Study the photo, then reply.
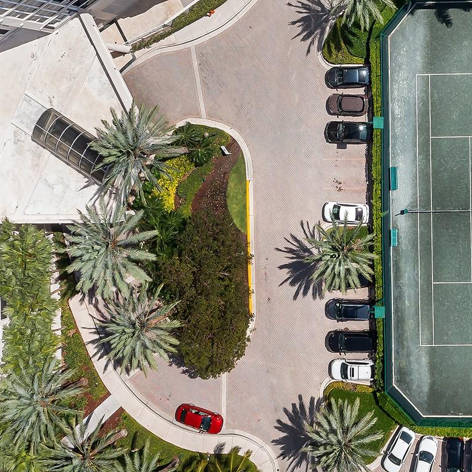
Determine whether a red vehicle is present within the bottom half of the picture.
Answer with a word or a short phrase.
Yes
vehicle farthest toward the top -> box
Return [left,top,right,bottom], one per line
[324,64,370,89]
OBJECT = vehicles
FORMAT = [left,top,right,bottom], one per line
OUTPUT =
[169,404,223,437]
[326,359,373,387]
[383,425,414,472]
[322,202,369,226]
[326,271,370,295]
[324,119,371,146]
[445,439,464,472]
[324,64,370,89]
[325,92,367,117]
[412,437,438,472]
[324,299,371,325]
[324,330,372,357]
